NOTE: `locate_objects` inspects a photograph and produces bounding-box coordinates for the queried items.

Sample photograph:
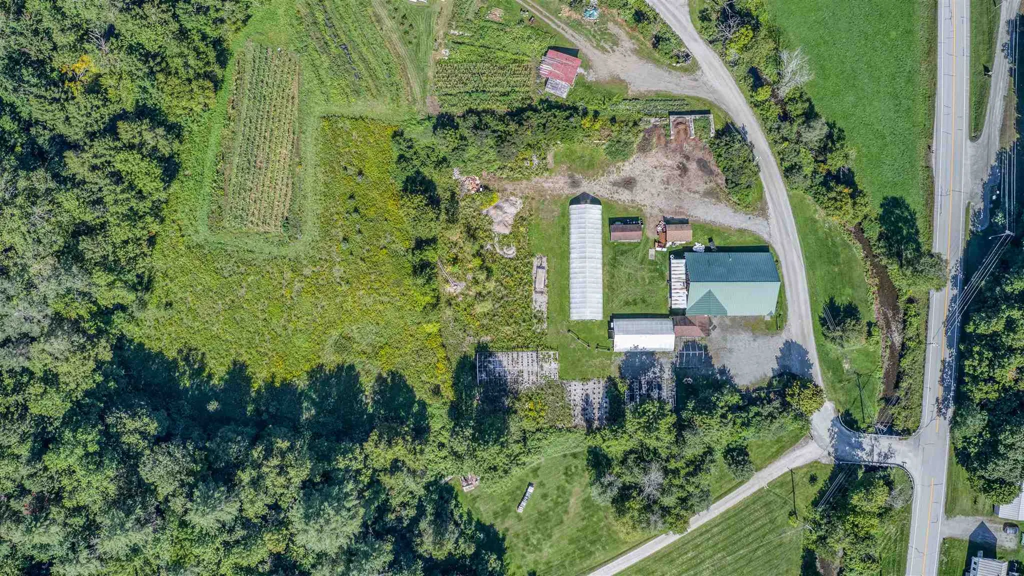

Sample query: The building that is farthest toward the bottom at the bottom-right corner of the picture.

[964,547,1012,576]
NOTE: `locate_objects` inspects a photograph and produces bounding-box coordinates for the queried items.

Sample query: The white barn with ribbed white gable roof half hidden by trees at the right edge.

[993,491,1024,522]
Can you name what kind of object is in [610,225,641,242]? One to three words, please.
shed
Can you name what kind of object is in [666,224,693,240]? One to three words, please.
shed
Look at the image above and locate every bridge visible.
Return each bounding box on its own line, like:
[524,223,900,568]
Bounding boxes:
[848,433,905,465]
